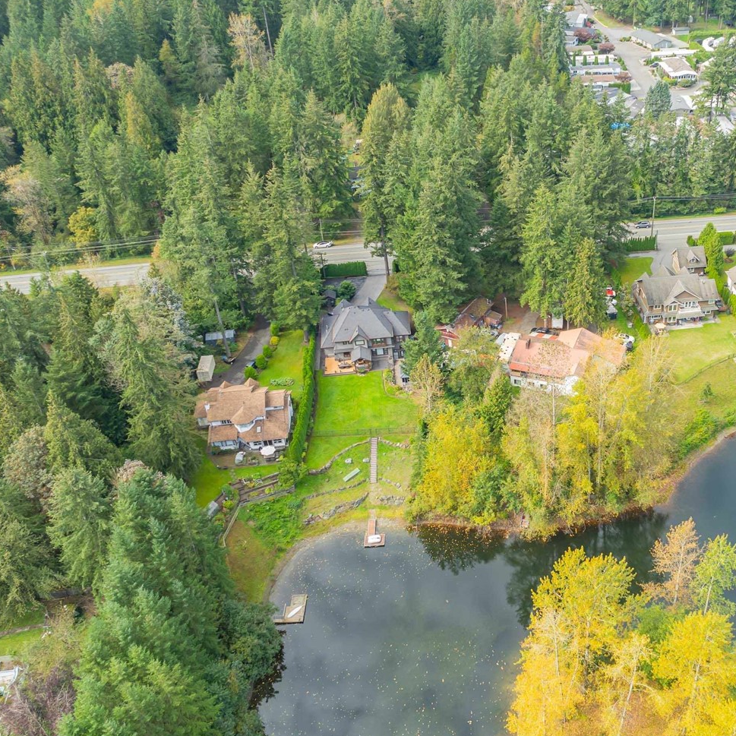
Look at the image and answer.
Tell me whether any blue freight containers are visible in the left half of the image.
No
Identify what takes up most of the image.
trees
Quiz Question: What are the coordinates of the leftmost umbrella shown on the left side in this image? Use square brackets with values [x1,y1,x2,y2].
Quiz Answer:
[258,444,278,457]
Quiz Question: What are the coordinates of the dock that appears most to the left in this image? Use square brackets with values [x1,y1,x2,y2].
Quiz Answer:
[275,594,309,623]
